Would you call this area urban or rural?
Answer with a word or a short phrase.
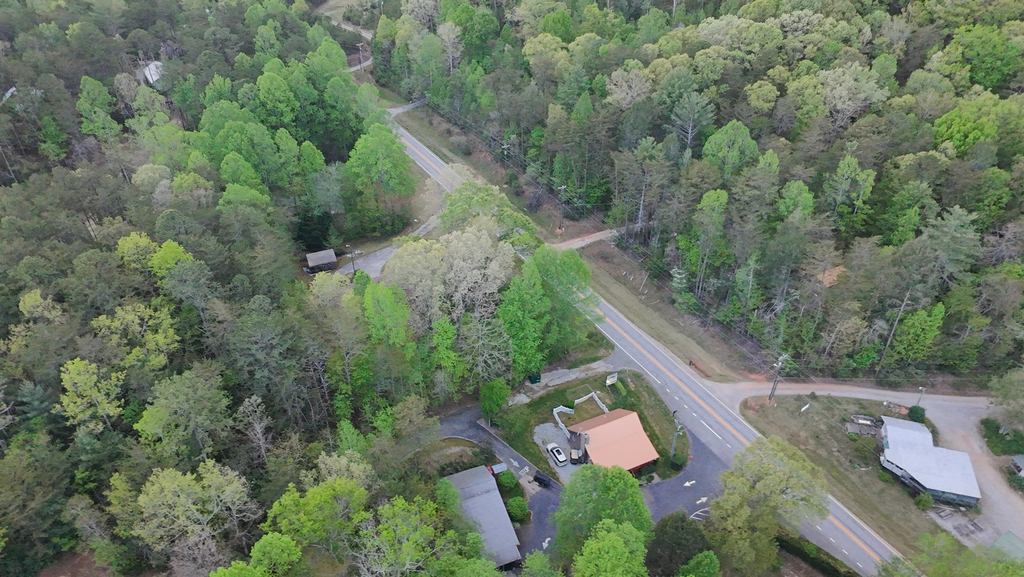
rural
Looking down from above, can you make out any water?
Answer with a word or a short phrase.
No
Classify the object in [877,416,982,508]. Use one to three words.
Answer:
building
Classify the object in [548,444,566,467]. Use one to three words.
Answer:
car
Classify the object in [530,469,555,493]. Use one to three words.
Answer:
car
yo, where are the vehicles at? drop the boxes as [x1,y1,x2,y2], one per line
[548,444,566,467]
[530,469,555,493]
[566,448,585,465]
